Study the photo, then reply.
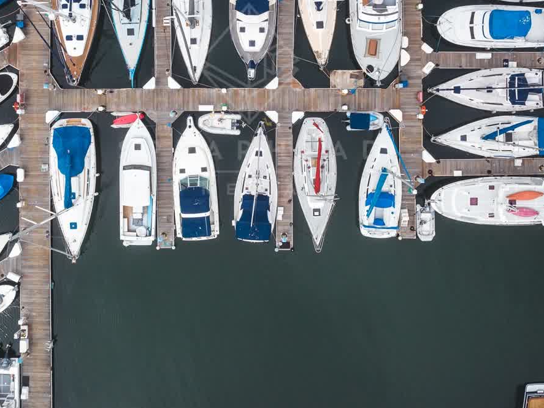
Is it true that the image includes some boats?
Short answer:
Yes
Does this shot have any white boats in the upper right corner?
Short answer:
Yes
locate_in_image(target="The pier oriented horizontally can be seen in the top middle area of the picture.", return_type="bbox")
[49,72,400,125]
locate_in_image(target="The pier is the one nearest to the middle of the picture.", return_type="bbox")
[276,111,293,250]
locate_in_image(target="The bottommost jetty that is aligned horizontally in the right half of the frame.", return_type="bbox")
[422,158,544,176]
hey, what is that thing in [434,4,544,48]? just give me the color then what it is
white boat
